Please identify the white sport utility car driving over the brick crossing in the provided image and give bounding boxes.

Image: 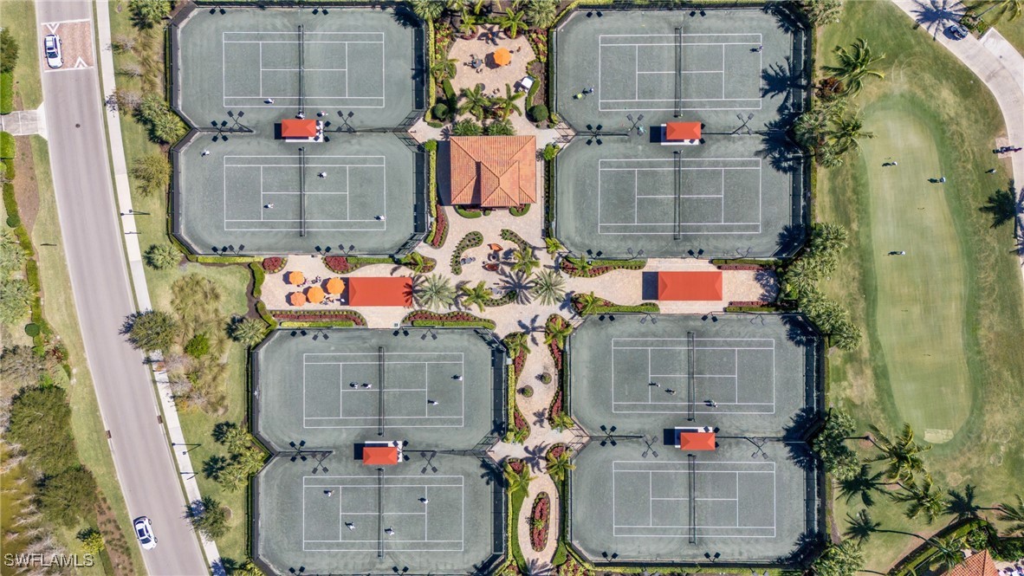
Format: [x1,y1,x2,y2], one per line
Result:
[40,33,61,67]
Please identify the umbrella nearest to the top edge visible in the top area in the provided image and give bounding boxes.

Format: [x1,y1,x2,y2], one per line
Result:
[494,50,510,66]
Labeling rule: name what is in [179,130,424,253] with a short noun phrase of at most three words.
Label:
tennis court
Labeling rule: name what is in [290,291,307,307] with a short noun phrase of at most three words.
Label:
umbrella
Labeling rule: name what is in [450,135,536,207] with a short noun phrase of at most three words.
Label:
building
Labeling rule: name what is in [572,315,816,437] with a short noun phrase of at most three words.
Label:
tennis court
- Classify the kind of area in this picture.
sports ground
